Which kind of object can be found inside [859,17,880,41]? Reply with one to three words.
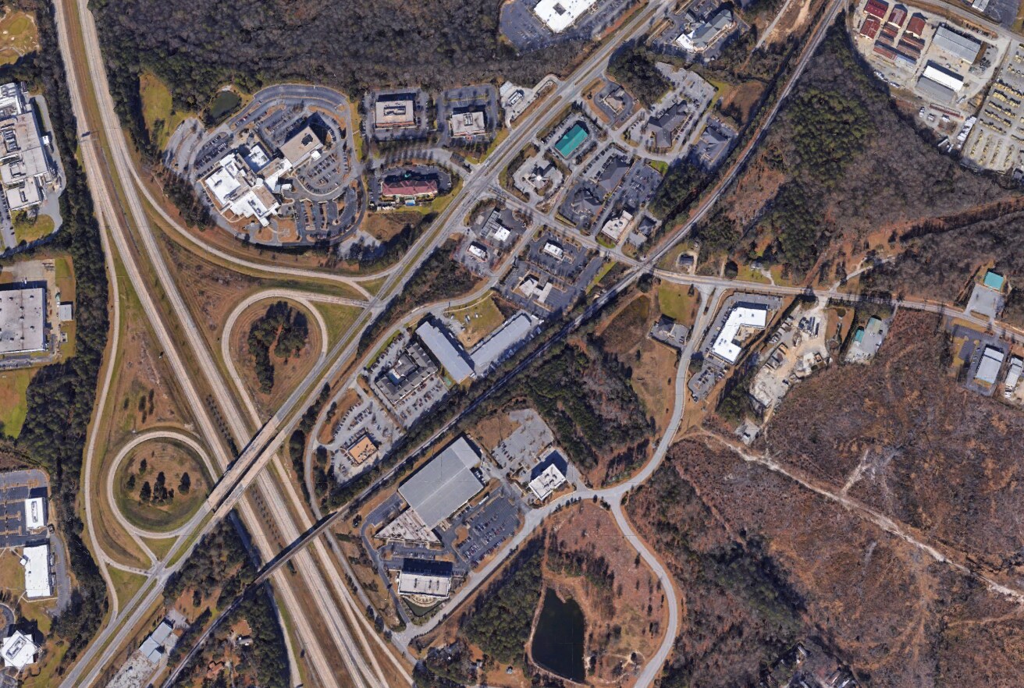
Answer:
shed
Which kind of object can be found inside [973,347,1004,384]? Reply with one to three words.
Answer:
building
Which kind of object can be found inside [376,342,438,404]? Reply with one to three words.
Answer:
building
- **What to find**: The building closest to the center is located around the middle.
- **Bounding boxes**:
[470,315,531,365]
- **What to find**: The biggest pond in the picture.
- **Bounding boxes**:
[530,587,585,682]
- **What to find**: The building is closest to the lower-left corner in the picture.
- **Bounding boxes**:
[0,628,42,669]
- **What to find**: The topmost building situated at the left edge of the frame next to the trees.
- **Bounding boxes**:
[0,81,53,211]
